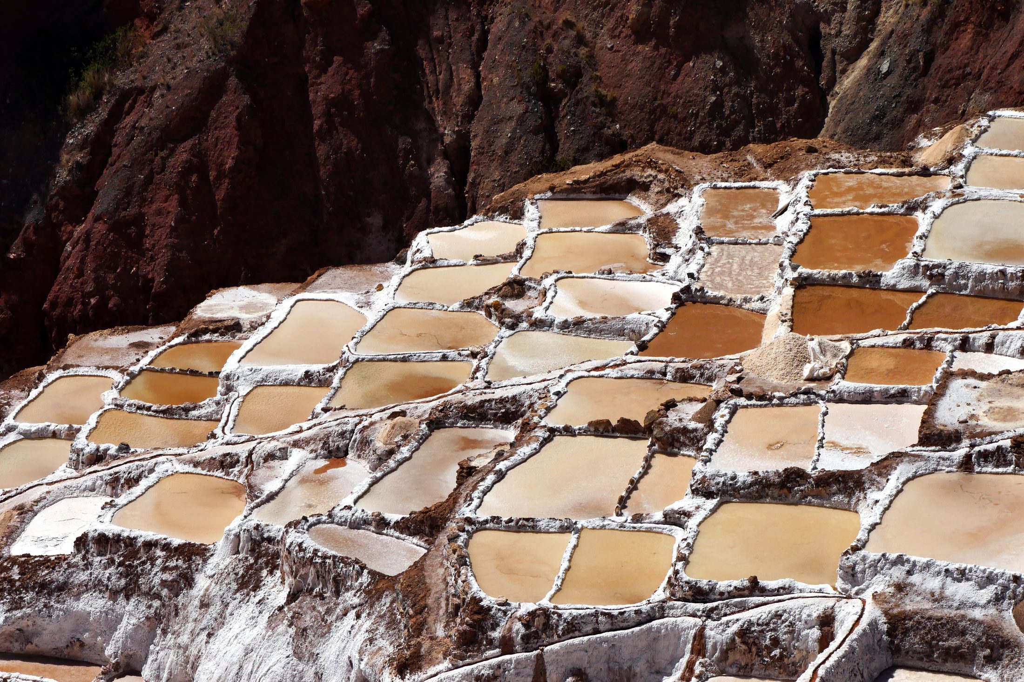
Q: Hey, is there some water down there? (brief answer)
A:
Yes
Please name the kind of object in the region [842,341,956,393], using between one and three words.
pond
